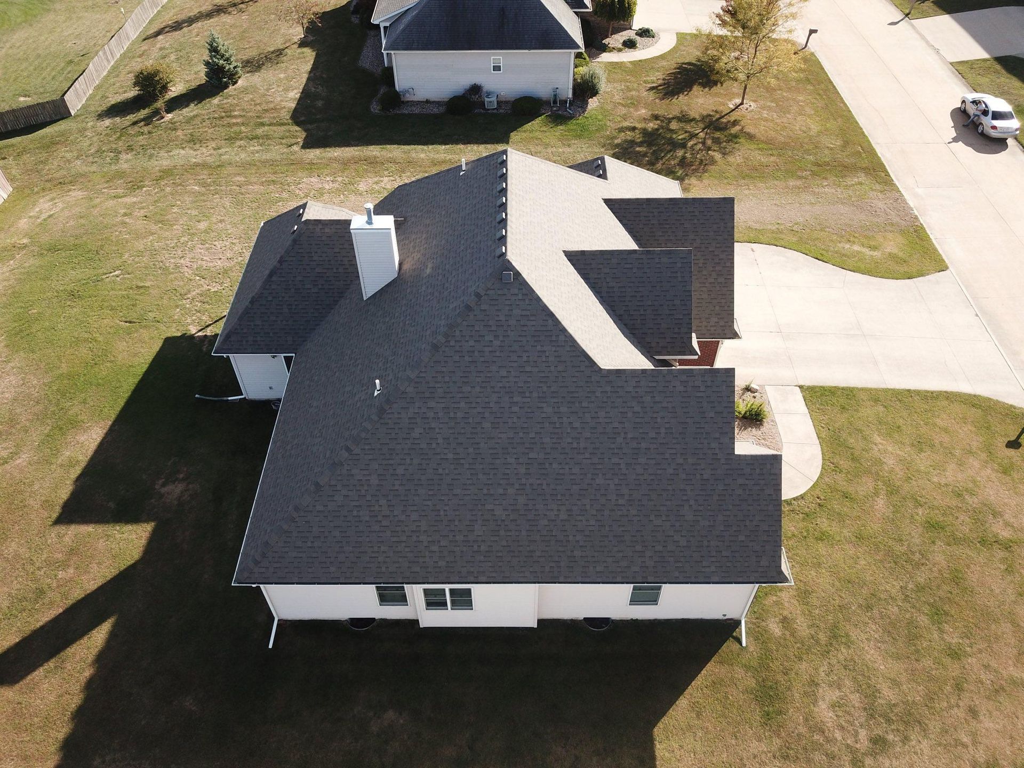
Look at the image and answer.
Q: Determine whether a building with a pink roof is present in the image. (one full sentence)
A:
No, there's no building with a pink roof here.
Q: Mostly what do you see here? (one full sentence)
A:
For the most part, this view shows grass.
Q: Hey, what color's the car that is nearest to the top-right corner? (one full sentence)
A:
The car that is nearest to the top-right corner looks white in the image.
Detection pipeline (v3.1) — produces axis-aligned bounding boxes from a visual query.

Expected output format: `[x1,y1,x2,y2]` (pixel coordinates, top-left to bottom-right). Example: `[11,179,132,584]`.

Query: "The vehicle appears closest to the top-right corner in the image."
[959,90,1024,139]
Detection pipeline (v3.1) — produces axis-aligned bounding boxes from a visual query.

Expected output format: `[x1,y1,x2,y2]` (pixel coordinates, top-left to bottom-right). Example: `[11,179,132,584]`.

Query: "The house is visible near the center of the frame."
[196,148,795,647]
